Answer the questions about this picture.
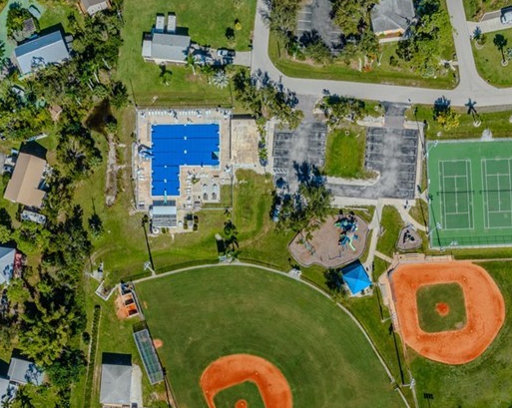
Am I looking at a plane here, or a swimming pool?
swimming pool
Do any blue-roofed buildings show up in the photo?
Yes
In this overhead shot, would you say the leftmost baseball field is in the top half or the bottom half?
bottom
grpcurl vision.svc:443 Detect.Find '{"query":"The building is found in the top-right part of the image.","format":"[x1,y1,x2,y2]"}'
[371,0,415,36]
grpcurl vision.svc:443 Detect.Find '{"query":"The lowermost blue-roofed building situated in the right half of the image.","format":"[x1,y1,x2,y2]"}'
[341,261,372,296]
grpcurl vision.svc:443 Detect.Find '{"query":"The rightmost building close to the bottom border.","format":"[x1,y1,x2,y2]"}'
[100,364,132,405]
